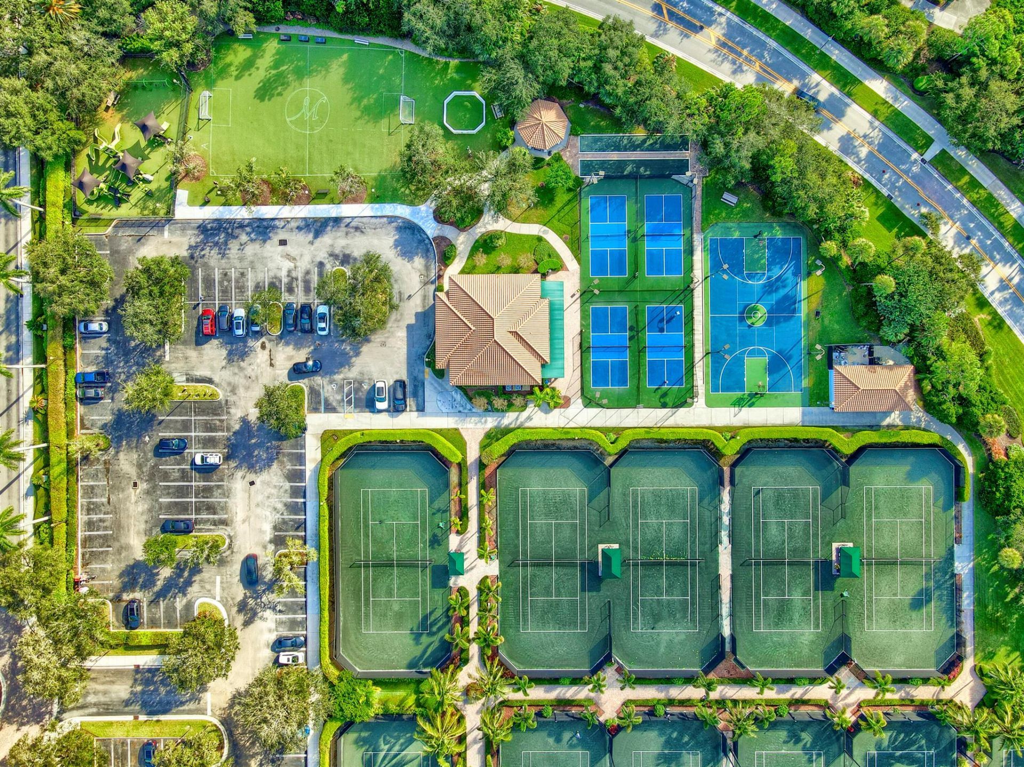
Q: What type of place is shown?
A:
sports ground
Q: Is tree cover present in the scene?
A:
Yes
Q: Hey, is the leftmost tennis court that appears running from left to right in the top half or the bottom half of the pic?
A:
bottom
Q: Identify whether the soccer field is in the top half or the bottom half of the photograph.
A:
top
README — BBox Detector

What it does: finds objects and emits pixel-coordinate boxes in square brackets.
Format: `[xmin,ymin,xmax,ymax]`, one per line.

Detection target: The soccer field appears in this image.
[200,42,404,175]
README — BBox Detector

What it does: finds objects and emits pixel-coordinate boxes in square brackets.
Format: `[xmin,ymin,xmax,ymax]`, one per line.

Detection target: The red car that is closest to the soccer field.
[198,309,213,335]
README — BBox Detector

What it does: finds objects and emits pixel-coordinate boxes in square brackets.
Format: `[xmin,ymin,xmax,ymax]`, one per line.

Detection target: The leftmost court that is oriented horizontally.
[338,721,450,767]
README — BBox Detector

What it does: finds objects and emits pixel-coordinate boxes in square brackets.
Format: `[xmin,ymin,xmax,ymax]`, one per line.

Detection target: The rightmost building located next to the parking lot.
[435,273,564,386]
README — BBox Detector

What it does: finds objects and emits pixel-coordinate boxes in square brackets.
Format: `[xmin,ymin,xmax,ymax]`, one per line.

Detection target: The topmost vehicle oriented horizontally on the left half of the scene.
[77,319,106,333]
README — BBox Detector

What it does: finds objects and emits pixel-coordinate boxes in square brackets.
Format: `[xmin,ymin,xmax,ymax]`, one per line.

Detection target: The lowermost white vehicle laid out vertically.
[373,380,387,411]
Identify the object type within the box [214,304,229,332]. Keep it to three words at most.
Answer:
car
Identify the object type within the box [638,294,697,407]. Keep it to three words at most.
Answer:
sports court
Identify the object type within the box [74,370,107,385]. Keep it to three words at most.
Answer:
vehicle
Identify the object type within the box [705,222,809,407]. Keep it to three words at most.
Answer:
basketball court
